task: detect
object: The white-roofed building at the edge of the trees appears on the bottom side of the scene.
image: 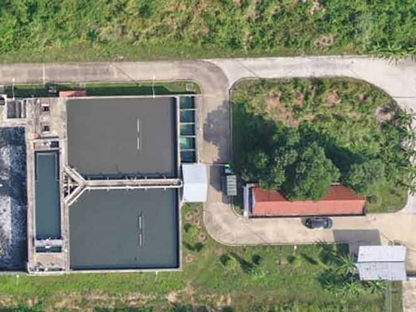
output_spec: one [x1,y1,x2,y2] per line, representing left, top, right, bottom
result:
[352,245,407,280]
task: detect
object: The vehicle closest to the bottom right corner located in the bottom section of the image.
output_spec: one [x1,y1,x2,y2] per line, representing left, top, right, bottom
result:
[304,217,332,230]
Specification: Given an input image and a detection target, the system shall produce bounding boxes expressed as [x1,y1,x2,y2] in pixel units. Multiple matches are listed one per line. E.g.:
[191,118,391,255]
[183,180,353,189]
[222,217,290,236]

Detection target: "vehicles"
[304,217,332,230]
[218,164,237,200]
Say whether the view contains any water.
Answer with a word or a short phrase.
Yes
